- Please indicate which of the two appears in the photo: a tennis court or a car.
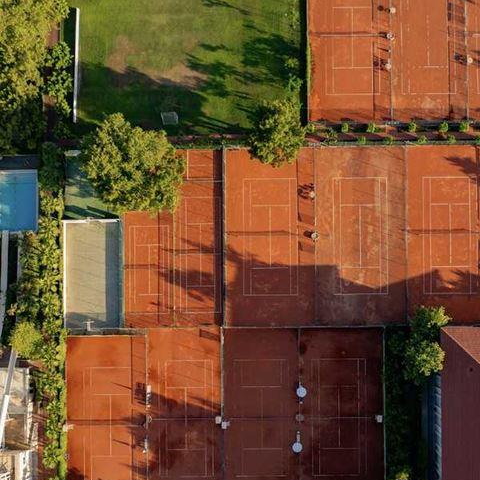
tennis court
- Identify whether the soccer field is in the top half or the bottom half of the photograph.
top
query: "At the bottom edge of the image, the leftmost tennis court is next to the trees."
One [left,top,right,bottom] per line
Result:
[66,336,147,480]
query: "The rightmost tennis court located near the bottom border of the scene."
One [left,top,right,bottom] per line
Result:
[300,328,384,480]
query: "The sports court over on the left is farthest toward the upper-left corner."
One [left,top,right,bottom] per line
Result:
[63,152,124,220]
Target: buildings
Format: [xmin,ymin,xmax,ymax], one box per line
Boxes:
[0,366,39,480]
[429,326,480,480]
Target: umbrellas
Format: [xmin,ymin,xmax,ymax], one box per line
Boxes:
[292,442,303,452]
[296,386,306,397]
